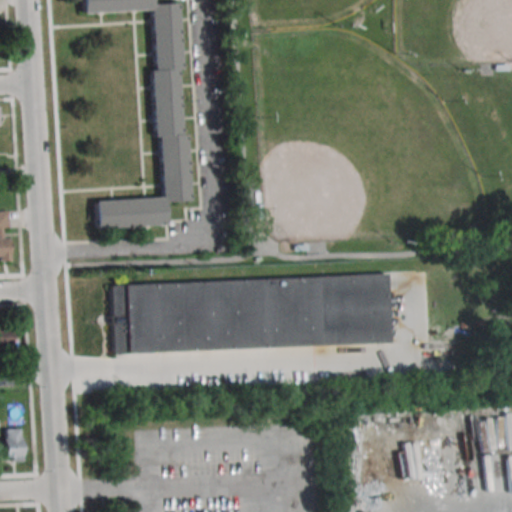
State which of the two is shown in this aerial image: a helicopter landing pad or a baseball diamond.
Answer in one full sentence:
I can see a baseball diamond in this picture.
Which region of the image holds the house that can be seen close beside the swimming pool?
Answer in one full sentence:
The house that can be seen close beside the swimming pool is located in the bottom left region of the scene.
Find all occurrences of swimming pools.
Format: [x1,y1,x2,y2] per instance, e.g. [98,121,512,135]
[8,403,25,425]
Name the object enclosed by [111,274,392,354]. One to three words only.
building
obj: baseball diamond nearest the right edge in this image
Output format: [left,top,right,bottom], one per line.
[396,0,512,66]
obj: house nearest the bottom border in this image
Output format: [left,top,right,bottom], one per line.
[6,428,28,462]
